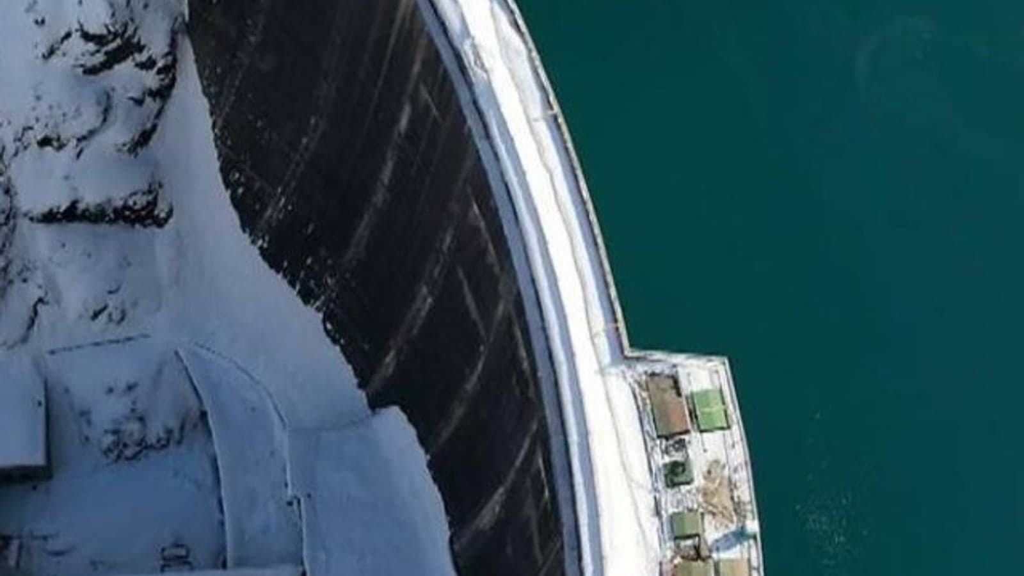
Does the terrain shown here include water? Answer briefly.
Yes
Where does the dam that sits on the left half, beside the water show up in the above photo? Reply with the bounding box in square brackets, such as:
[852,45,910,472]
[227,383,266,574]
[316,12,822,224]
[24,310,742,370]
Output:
[181,0,627,576]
